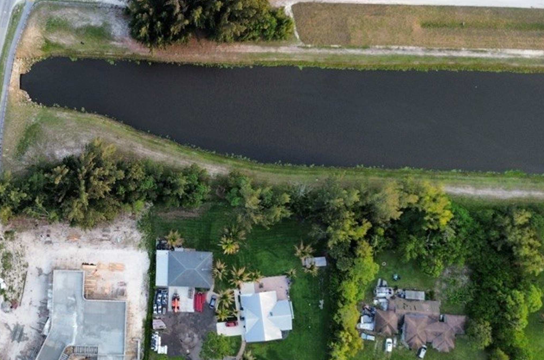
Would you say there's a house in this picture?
Yes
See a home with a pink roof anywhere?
No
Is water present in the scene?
Yes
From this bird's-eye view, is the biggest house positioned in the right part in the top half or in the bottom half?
bottom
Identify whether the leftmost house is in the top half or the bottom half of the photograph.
bottom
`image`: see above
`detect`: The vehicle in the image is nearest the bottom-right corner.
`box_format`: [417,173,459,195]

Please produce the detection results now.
[415,347,427,360]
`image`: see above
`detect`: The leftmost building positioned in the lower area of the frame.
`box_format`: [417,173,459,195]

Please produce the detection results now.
[36,270,126,360]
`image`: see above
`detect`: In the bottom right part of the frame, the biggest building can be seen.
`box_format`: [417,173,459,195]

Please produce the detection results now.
[372,298,466,352]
